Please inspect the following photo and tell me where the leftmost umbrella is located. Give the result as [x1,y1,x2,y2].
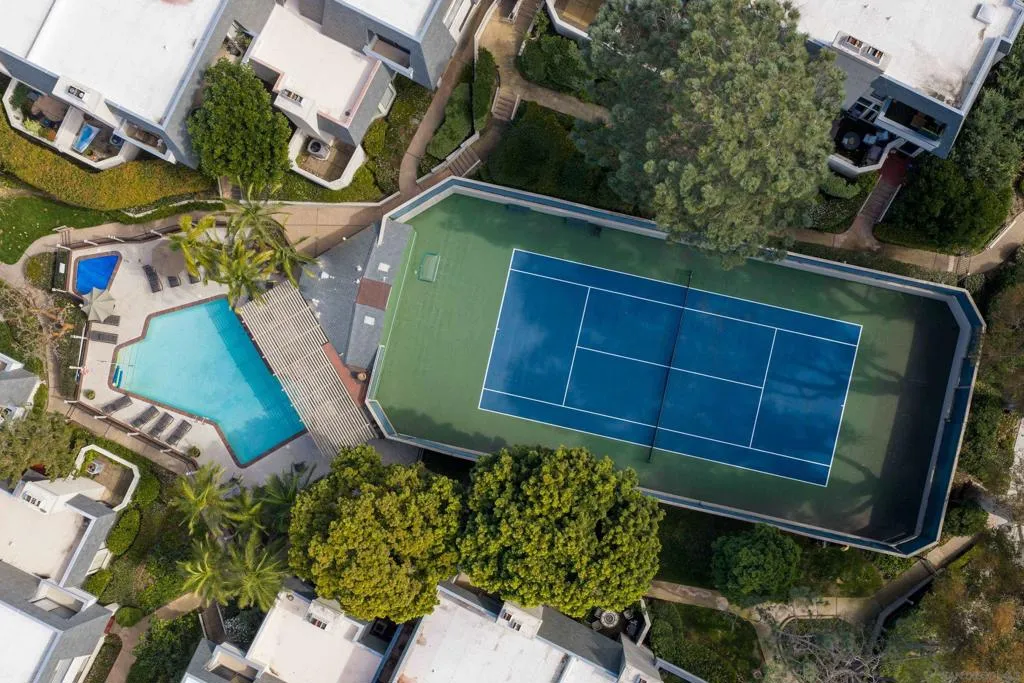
[76,284,117,321]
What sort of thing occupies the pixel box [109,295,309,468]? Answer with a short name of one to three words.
swimming pool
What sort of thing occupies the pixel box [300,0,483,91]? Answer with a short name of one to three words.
house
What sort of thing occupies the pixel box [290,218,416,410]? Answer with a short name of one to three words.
building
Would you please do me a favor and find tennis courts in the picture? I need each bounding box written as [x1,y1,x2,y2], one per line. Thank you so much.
[377,195,960,545]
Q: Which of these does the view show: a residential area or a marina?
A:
residential area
